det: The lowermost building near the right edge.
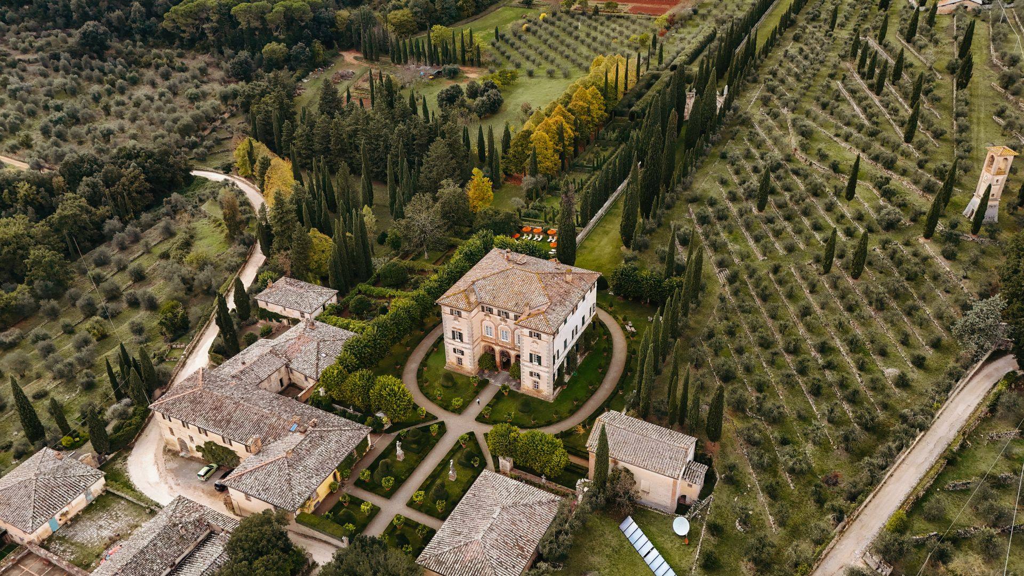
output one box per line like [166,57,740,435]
[958,142,1021,222]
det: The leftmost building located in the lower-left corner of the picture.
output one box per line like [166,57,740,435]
[0,446,105,543]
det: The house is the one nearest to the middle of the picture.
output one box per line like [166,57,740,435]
[435,247,604,402]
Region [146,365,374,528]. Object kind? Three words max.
building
